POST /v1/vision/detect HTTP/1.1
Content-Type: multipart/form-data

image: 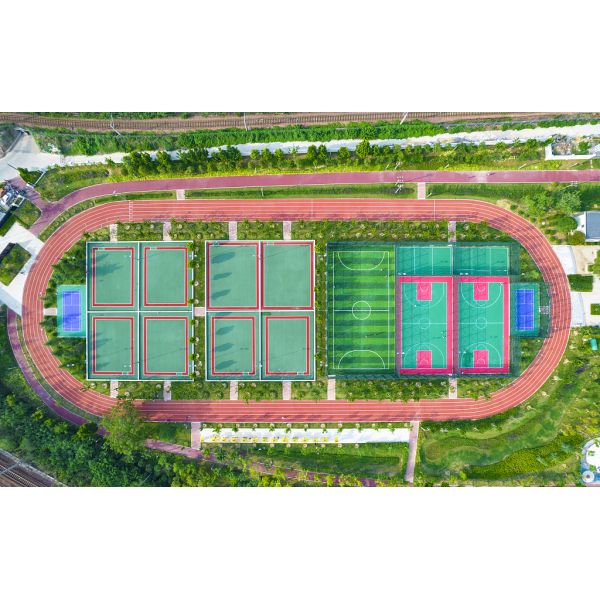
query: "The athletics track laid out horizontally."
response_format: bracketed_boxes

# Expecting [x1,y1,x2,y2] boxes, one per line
[21,199,572,422]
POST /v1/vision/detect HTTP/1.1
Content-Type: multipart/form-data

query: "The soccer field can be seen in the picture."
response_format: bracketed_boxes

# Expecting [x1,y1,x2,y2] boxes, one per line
[329,246,394,375]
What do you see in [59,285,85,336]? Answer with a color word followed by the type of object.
blue sports court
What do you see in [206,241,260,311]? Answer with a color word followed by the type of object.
green sports court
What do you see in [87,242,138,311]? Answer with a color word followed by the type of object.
green sports court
